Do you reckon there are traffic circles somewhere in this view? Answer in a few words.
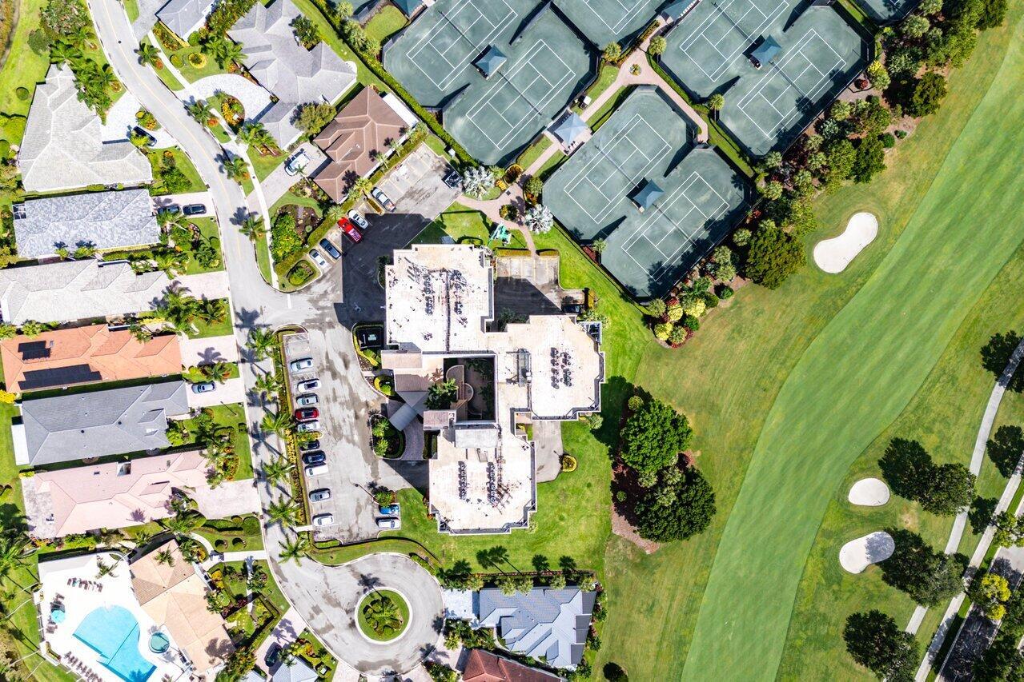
Yes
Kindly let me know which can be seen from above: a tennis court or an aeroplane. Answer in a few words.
tennis court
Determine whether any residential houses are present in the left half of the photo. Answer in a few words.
Yes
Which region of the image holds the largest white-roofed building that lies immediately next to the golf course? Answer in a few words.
center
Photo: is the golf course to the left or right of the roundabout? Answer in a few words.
to the right of it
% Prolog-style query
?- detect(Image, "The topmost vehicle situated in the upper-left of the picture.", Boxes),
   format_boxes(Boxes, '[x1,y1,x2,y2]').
[133,127,155,143]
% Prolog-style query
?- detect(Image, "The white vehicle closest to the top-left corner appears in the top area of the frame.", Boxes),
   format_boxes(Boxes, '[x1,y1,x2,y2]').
[287,152,307,173]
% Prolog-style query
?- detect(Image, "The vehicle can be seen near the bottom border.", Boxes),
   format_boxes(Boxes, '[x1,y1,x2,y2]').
[265,644,281,666]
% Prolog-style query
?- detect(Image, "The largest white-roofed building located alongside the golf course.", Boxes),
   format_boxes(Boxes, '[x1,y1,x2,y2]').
[381,244,605,535]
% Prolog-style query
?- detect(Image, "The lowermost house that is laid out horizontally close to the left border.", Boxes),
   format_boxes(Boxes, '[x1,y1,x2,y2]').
[33,449,212,538]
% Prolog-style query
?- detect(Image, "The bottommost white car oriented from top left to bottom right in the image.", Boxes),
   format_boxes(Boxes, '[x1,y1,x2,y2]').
[309,248,328,268]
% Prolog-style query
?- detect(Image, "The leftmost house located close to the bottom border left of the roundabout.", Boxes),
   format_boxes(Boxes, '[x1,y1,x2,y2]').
[129,538,239,674]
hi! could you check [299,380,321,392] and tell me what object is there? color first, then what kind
white vehicle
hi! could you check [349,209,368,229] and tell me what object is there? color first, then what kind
white car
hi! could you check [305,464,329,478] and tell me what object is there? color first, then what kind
white vehicle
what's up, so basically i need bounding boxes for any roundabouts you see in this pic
[355,587,411,644]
